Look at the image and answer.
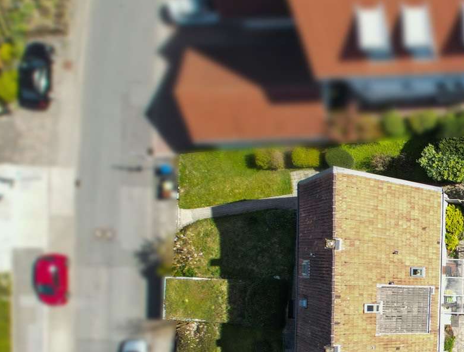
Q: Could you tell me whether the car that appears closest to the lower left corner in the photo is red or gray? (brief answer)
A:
red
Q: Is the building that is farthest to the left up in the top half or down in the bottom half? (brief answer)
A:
bottom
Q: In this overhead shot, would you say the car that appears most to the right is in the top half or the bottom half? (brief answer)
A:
top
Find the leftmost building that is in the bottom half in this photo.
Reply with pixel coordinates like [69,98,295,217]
[163,278,234,323]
